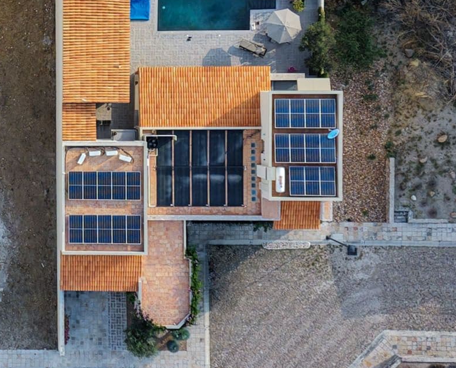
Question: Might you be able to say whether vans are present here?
No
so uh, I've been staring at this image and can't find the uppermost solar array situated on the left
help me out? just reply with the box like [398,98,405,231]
[69,172,141,199]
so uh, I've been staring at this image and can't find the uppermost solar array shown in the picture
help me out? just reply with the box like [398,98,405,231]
[274,99,335,128]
